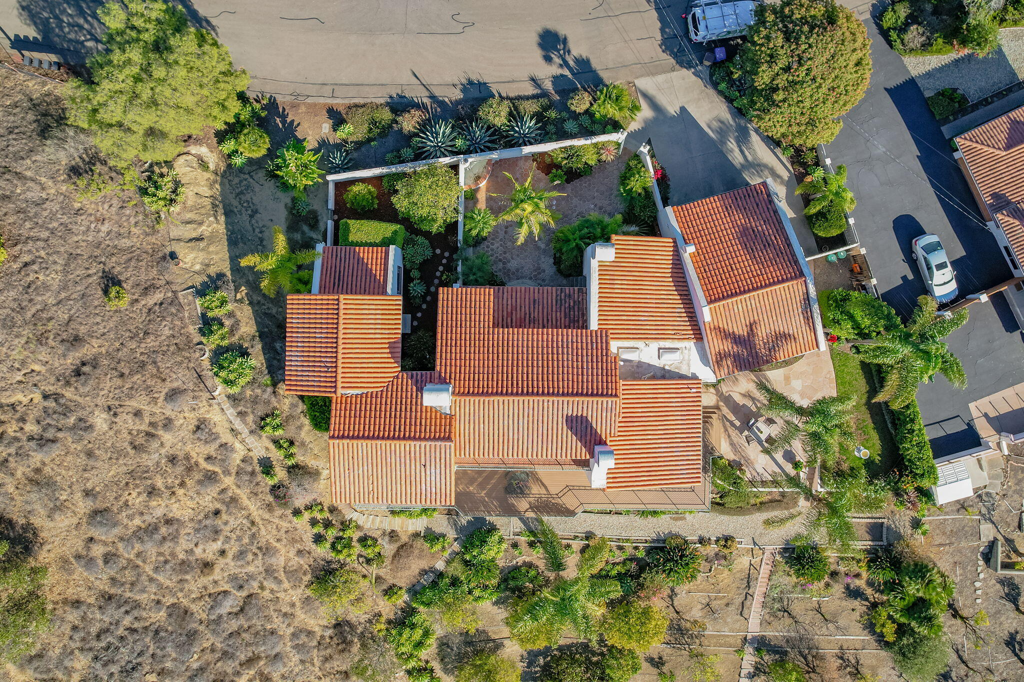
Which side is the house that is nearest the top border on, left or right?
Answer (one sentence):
You can find the house that is nearest the top border on the right side of the picture.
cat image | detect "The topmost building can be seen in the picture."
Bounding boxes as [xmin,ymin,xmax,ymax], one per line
[943,105,1024,276]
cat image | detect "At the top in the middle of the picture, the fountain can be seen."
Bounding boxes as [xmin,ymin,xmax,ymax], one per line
[465,164,491,187]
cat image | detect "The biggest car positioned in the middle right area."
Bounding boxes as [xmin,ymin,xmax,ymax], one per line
[906,230,959,307]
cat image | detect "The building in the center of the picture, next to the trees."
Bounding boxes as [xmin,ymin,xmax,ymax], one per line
[284,179,826,522]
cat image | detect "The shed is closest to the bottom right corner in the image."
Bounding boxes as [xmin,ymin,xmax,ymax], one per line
[926,457,973,506]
